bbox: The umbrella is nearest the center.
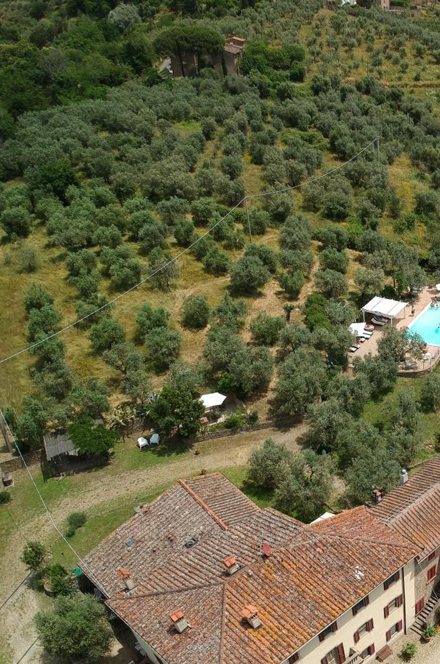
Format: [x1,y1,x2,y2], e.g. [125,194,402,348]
[200,389,225,417]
